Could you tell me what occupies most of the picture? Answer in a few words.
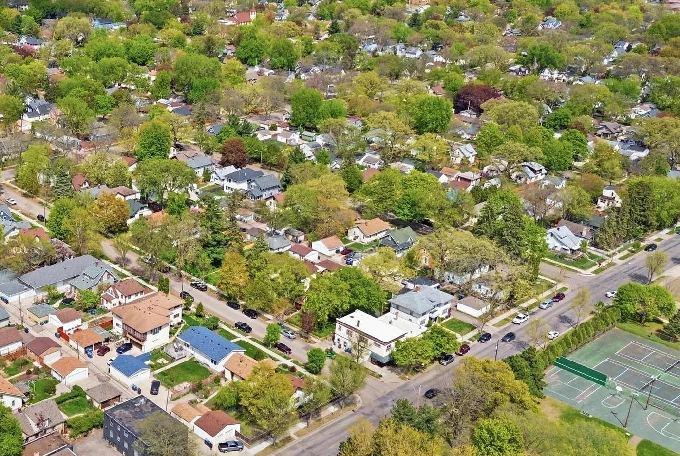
trees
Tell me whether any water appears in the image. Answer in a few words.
No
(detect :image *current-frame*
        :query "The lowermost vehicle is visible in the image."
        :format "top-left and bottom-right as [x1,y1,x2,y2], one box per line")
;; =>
[219,439,243,455]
